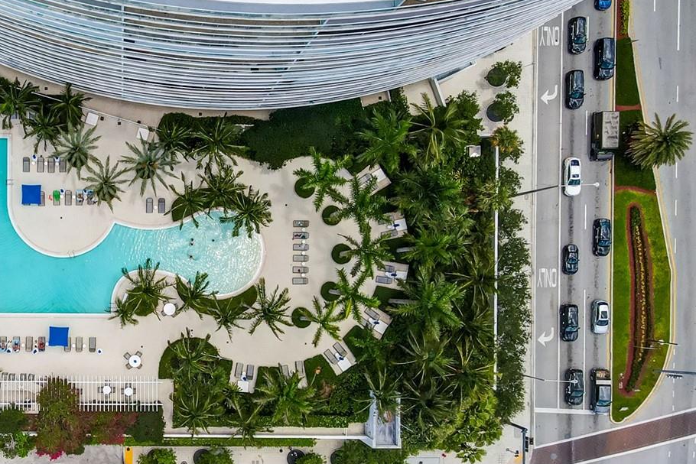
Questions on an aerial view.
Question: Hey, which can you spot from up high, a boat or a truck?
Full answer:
Visible in the photo is a truck.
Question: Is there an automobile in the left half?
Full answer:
No, I can find no automobile in the left half.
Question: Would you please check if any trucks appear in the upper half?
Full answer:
Yes, a truck shows up in the upper half.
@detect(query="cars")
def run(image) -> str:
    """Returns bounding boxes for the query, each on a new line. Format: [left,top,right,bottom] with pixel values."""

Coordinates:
[563,68,587,110]
[561,158,580,197]
[591,216,612,256]
[560,244,580,276]
[592,0,613,14]
[564,13,588,55]
[588,300,610,334]
[563,367,586,407]
[557,304,580,342]
[592,36,617,80]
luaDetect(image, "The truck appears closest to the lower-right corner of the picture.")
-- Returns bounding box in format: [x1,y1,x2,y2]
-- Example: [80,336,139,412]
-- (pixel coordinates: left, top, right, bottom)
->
[588,370,612,415]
